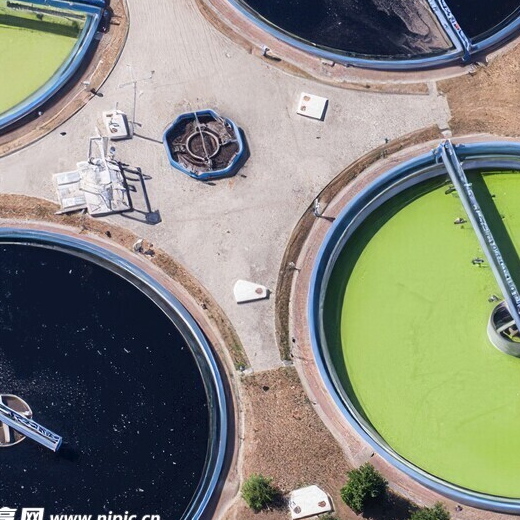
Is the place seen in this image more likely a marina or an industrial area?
industrial area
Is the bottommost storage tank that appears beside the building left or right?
left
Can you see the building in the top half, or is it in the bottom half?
top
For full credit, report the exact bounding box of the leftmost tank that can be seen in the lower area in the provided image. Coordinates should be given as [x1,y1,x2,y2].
[0,228,226,520]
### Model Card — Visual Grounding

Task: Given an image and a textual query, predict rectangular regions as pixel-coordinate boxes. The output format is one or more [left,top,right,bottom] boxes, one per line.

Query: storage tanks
[0,1,103,135]
[0,228,226,520]
[221,0,520,72]
[307,141,520,516]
